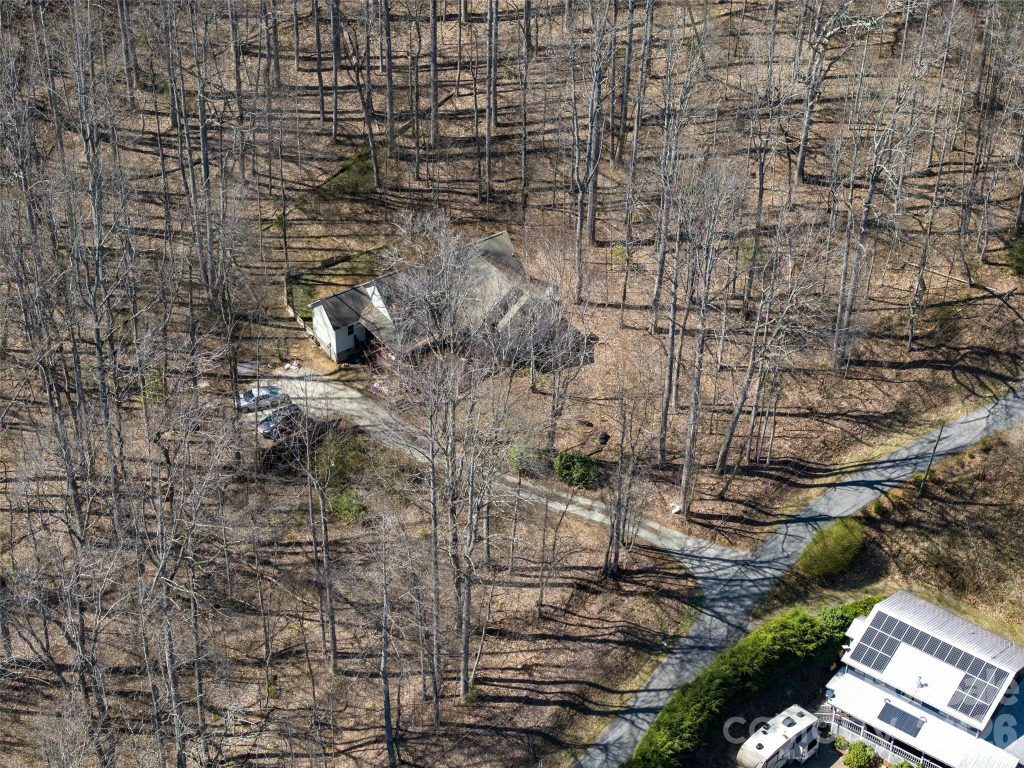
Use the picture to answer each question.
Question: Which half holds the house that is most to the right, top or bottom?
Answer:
bottom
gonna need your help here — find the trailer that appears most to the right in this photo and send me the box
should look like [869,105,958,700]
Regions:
[731,704,821,768]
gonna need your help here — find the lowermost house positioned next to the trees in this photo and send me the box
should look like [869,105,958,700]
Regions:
[810,589,1024,768]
